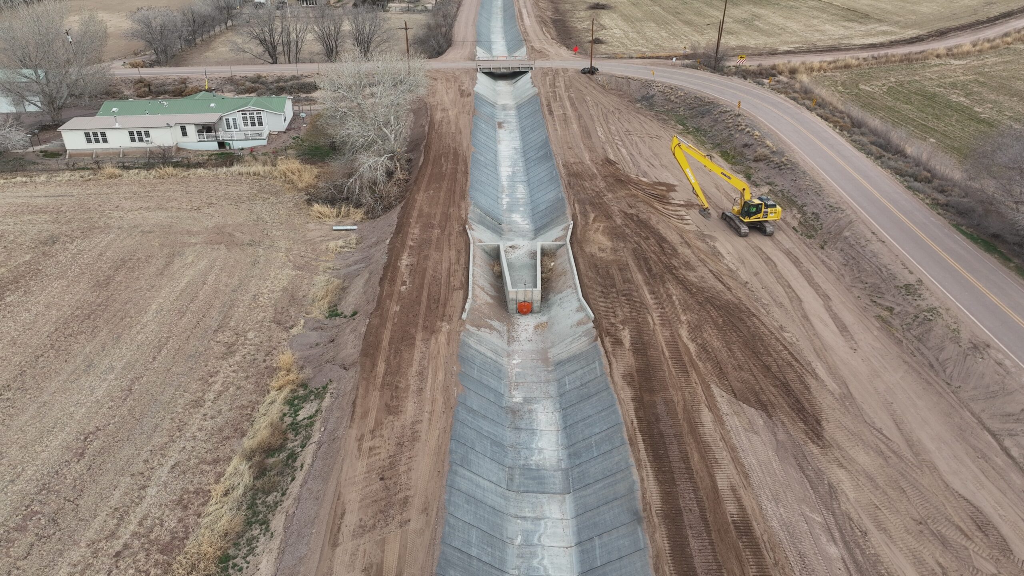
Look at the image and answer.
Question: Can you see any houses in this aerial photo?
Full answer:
Yes, a house can be made out from above.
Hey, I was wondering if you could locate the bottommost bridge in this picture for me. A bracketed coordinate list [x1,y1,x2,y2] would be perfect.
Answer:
[467,57,542,76]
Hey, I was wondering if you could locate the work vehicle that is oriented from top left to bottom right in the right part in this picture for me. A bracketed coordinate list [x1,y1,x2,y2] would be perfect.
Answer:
[669,134,783,237]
